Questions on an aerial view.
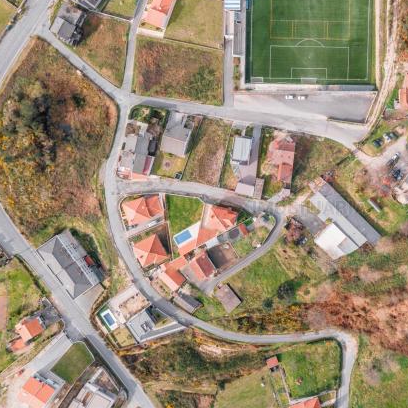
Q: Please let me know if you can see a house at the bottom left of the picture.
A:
Yes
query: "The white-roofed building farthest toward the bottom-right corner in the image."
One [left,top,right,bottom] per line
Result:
[314,223,359,259]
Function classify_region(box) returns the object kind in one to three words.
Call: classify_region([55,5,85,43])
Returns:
house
